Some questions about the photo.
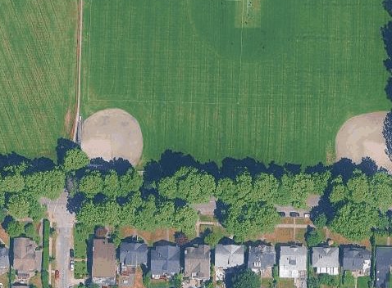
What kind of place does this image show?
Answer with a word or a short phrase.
sports ground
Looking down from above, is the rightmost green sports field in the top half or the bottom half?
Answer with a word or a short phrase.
top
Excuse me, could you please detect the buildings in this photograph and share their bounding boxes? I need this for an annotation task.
[184,244,211,280]
[343,245,371,275]
[215,242,245,278]
[13,235,42,278]
[375,243,392,288]
[150,243,180,278]
[279,243,307,279]
[249,243,276,278]
[0,242,10,275]
[92,237,118,283]
[311,245,339,275]
[120,237,147,276]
